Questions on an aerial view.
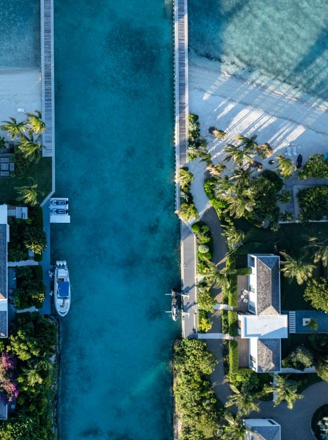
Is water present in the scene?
Yes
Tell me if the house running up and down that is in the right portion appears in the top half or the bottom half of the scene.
bottom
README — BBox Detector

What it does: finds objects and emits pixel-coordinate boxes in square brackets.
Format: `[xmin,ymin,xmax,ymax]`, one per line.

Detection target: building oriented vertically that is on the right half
[236,255,289,373]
